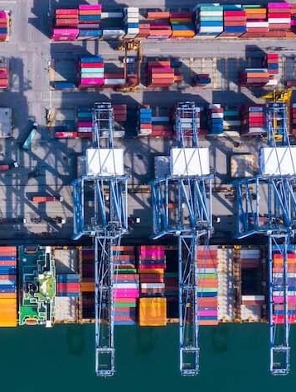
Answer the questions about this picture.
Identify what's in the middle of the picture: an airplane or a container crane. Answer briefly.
container crane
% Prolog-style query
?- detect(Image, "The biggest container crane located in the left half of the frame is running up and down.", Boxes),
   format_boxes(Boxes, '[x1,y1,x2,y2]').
[61,100,128,375]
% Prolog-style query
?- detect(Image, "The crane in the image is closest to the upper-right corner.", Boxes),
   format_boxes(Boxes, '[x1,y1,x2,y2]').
[254,84,290,141]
